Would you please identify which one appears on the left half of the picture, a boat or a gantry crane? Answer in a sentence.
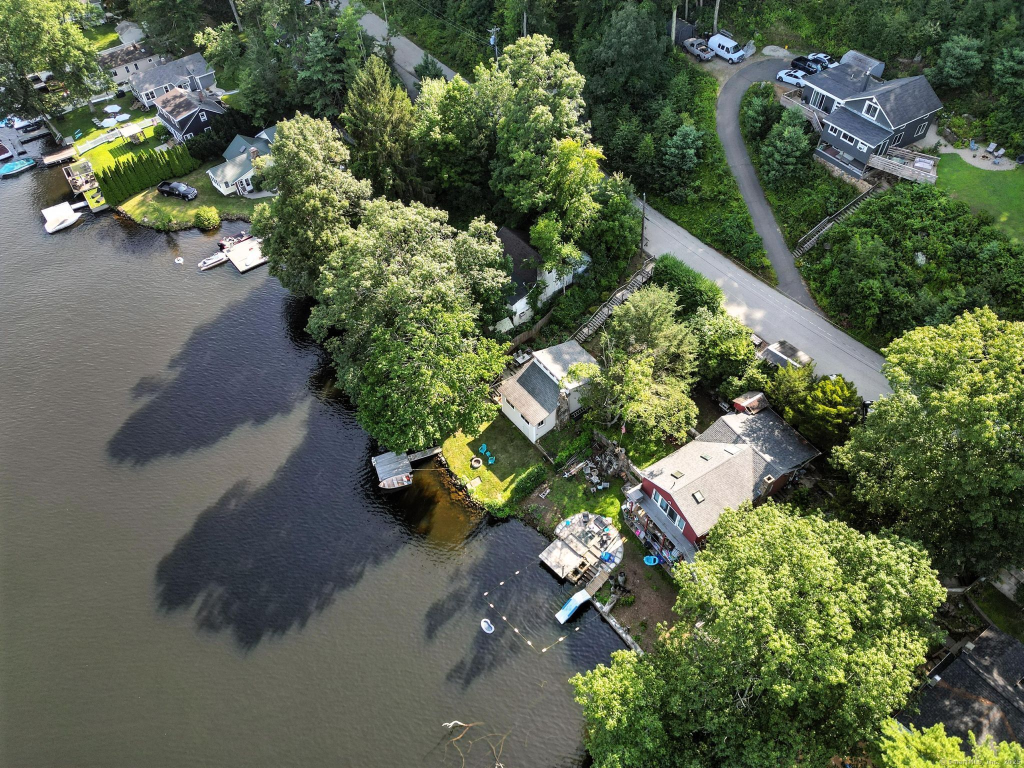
Visible on the left half of the picture is a boat.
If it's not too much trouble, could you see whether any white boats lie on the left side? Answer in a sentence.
Yes, a white boat shows up on the left side.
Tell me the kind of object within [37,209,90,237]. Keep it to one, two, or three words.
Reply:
boat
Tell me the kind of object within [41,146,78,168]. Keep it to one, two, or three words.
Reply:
pier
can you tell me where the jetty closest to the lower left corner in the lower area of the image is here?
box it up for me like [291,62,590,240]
[371,450,411,483]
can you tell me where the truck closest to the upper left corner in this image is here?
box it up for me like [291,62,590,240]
[154,181,199,203]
